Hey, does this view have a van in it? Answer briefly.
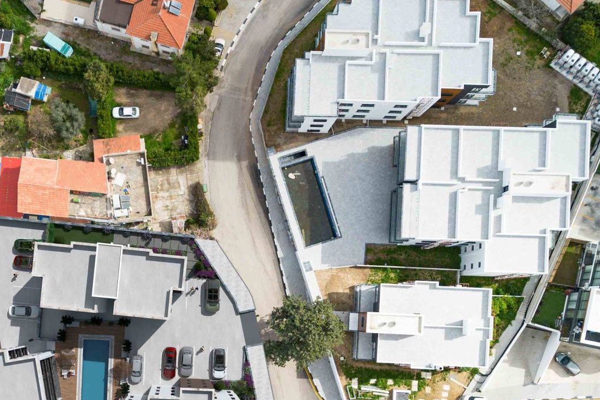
Yes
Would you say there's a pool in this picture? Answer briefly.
Yes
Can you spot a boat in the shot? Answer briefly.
No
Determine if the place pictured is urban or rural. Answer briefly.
urban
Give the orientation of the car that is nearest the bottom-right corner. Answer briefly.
diagonally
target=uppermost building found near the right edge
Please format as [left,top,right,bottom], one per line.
[530,0,583,27]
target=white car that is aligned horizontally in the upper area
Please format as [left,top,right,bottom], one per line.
[111,105,140,119]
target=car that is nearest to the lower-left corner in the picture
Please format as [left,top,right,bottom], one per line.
[8,304,38,319]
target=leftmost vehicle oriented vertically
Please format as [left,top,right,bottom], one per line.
[130,354,144,385]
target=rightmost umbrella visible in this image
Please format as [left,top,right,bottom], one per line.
[112,361,131,379]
